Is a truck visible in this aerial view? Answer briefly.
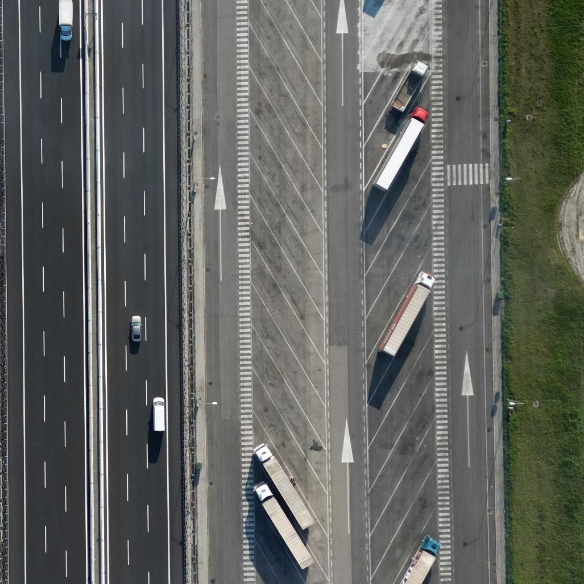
Yes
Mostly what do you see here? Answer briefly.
paved ground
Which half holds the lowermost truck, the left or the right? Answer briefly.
right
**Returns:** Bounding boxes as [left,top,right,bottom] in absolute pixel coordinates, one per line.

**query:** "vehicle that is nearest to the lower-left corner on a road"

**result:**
[151,396,165,432]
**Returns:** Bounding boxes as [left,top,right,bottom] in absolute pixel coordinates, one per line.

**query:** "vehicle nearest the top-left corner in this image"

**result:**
[60,0,74,40]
